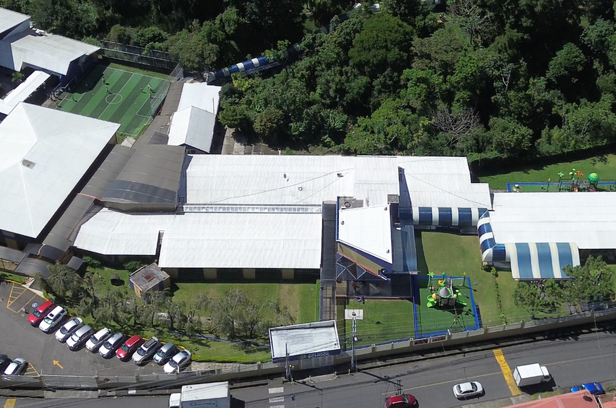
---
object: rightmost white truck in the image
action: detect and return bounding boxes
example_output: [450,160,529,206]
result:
[518,362,556,388]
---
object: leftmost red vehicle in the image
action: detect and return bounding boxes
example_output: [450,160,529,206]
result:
[28,300,55,325]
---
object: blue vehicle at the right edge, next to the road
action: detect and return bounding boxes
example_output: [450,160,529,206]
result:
[570,381,606,396]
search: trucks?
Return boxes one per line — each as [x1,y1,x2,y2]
[518,362,556,388]
[169,384,231,408]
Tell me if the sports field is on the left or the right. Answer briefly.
left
